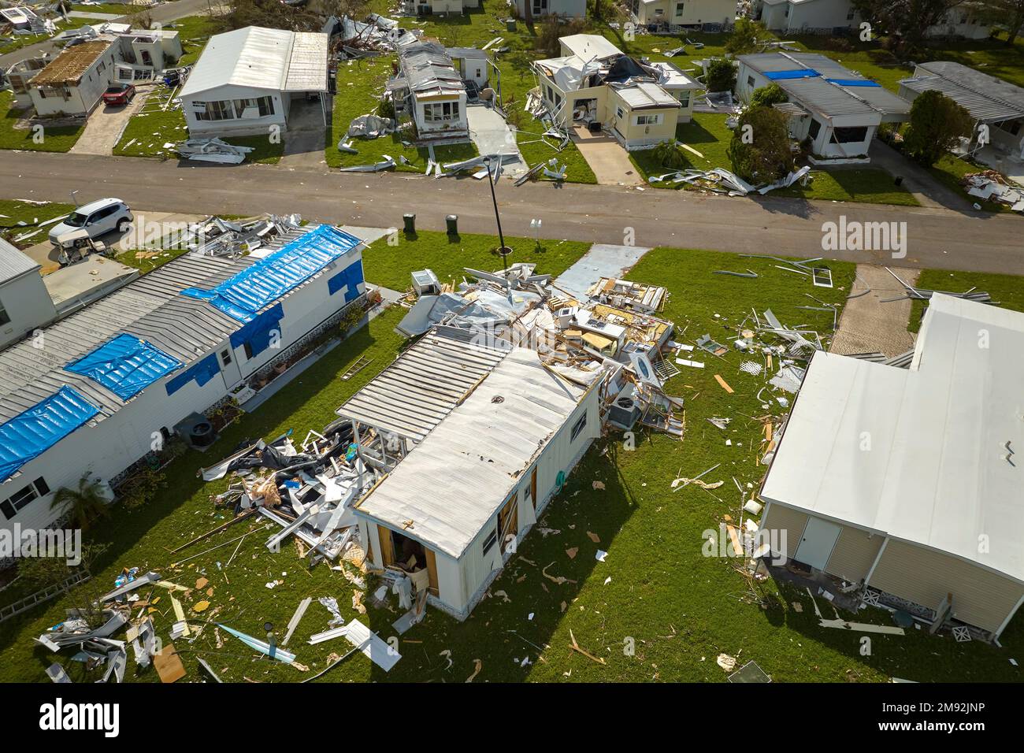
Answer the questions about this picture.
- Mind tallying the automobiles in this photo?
2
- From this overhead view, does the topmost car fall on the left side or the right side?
left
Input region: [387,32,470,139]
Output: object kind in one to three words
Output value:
house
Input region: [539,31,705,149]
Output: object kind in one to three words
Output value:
house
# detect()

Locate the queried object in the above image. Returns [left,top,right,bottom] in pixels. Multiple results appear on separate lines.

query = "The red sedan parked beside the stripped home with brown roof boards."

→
[103,81,137,103]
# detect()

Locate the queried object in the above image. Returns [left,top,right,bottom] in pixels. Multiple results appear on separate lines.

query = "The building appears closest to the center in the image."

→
[332,316,604,620]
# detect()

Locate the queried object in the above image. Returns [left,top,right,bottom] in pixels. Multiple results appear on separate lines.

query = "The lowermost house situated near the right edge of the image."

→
[752,296,1024,664]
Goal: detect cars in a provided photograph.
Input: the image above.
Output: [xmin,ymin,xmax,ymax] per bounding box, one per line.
[45,199,132,255]
[103,81,137,103]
